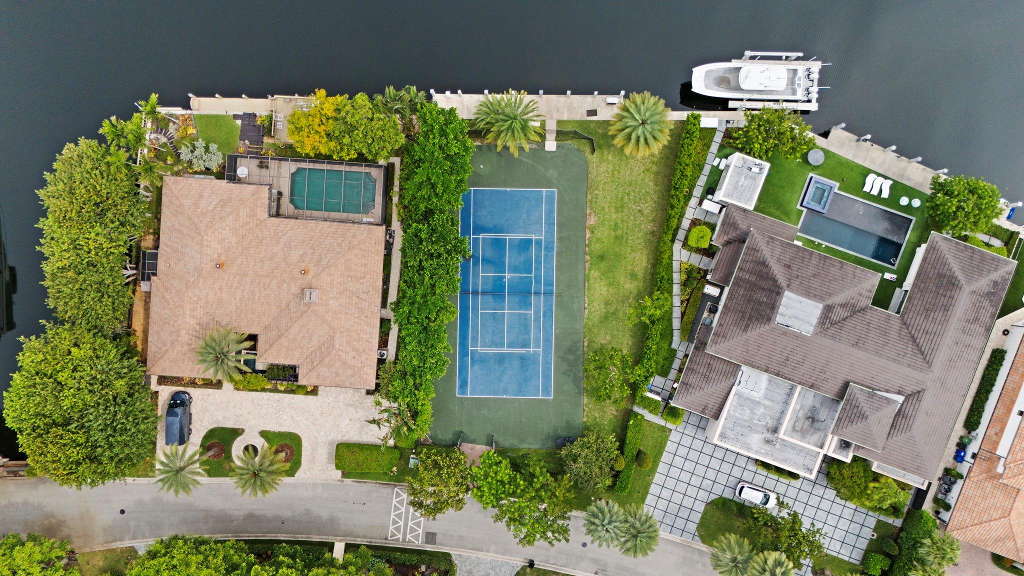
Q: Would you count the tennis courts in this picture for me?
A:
1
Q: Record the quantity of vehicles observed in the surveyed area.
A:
2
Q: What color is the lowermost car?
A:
white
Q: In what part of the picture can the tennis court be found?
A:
center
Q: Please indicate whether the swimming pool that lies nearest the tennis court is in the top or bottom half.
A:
top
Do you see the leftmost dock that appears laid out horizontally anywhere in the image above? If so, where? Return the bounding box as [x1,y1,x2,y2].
[189,93,274,112]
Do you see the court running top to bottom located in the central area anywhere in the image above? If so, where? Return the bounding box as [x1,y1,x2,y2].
[430,144,588,448]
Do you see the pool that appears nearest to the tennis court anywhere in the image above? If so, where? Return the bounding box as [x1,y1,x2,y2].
[286,165,379,217]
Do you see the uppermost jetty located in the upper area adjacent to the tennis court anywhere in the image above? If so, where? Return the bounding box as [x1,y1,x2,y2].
[430,89,624,120]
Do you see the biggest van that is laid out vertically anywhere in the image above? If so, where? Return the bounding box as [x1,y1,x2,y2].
[162,392,191,449]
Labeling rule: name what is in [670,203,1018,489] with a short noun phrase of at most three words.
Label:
house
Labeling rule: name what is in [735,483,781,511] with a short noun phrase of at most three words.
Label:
car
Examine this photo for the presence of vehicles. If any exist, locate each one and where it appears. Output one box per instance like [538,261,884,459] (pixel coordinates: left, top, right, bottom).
[162,392,191,449]
[735,483,781,511]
